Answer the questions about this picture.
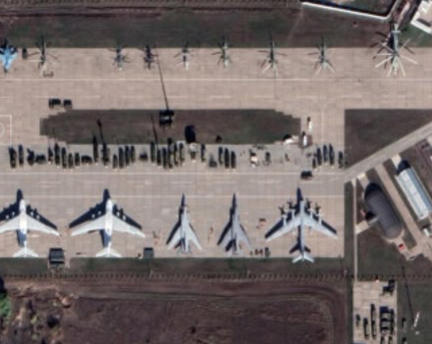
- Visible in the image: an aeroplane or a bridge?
aeroplane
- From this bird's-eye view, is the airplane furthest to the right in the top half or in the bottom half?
bottom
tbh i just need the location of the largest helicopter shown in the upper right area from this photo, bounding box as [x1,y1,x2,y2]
[373,27,418,73]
